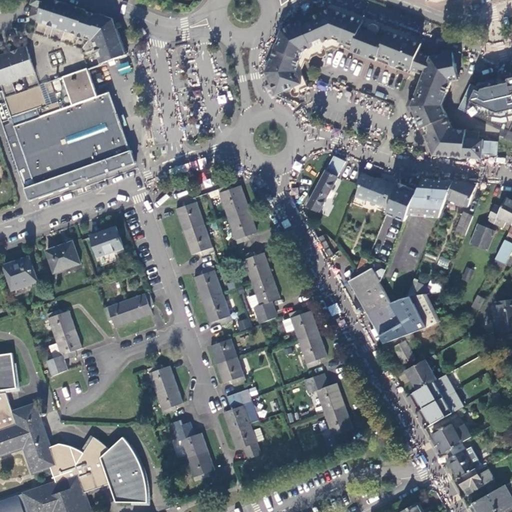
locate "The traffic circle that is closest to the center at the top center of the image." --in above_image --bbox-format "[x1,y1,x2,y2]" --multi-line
[240,108,300,168]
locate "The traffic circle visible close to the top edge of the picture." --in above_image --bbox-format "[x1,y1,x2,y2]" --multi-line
[214,0,274,39]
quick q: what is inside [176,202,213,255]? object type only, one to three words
house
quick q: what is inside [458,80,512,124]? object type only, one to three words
building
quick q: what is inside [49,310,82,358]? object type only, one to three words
house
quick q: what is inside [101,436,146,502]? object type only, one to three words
building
